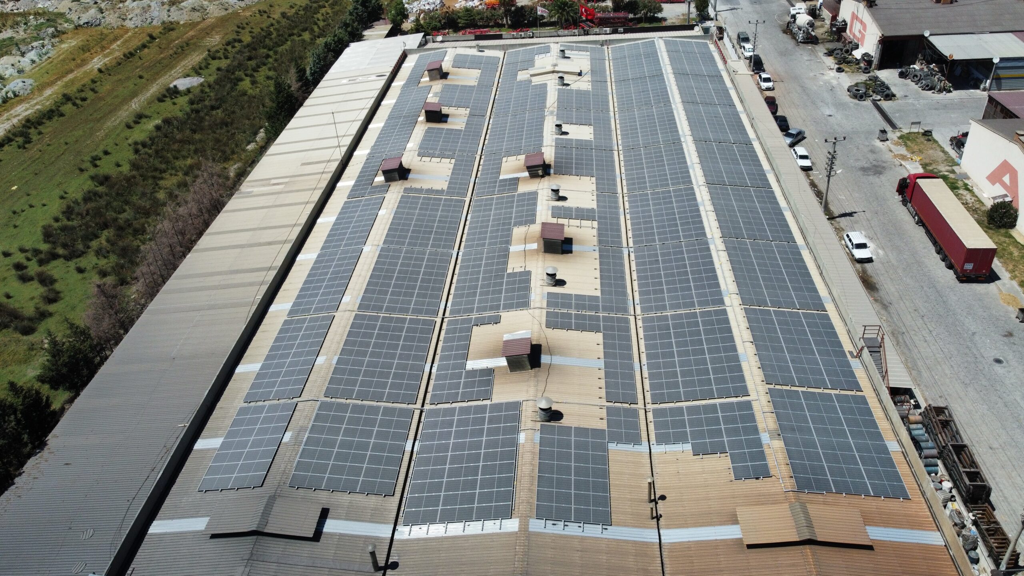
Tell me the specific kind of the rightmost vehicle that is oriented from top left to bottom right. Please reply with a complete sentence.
It looks like the rightmost vehicle that is oriented from top left to bottom right is a truck.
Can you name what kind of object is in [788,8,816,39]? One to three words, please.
truck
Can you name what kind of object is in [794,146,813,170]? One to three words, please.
car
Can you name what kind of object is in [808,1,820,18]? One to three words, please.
vehicle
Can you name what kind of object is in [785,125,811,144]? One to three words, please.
car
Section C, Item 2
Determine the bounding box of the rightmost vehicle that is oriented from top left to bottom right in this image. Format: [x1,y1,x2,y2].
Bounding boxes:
[894,173,997,281]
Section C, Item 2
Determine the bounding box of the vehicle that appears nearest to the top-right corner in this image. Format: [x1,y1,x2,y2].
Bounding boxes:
[942,130,969,147]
